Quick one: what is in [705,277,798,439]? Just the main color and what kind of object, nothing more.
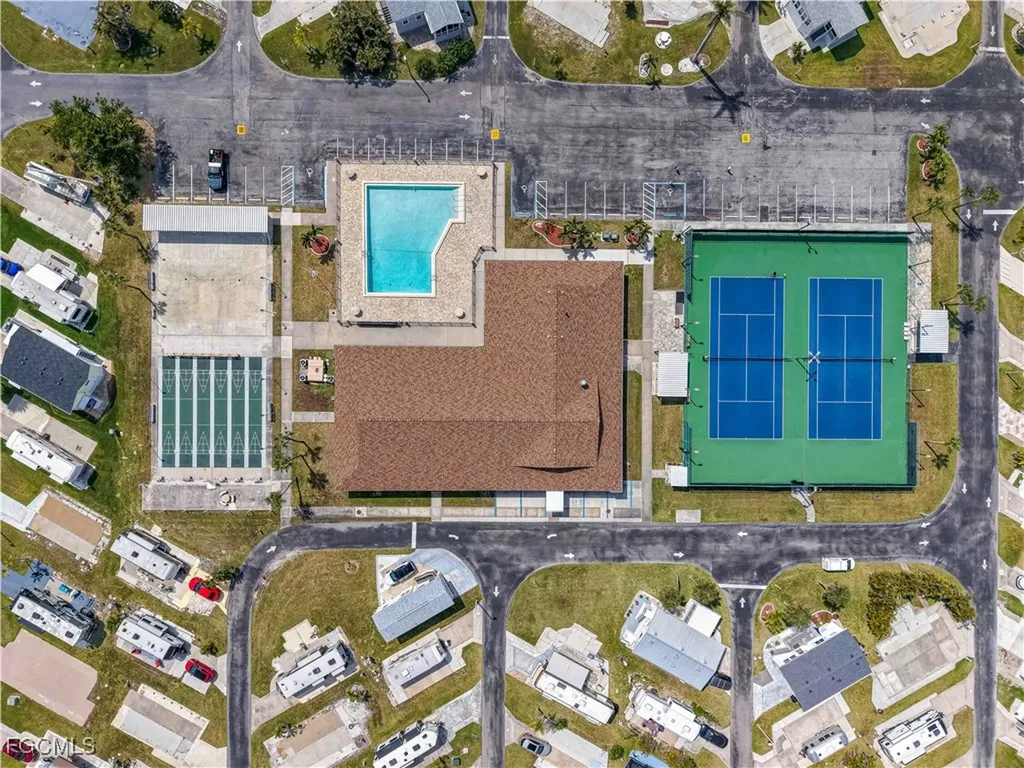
blue tennis court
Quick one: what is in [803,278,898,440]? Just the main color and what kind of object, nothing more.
blue tennis court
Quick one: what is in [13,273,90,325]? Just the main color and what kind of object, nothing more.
white camper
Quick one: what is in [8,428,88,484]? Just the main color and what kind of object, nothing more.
white trailer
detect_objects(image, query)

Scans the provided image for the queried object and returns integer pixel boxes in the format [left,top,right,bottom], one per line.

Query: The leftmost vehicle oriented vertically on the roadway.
[207,150,225,192]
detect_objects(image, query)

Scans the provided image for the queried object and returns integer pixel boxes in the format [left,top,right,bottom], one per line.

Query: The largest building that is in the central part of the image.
[334,262,623,491]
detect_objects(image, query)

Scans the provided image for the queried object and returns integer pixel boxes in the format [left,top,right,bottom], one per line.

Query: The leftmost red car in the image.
[3,738,38,763]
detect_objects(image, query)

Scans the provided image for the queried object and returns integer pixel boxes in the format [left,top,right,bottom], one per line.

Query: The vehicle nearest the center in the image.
[386,559,419,585]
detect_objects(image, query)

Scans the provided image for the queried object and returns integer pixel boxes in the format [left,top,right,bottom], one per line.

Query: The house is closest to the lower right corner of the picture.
[770,615,872,711]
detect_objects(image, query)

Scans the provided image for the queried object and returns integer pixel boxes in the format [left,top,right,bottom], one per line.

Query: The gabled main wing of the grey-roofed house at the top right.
[815,0,869,46]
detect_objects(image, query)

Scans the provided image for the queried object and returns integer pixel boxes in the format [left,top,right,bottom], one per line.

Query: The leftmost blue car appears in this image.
[0,254,27,277]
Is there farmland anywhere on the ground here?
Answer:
No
